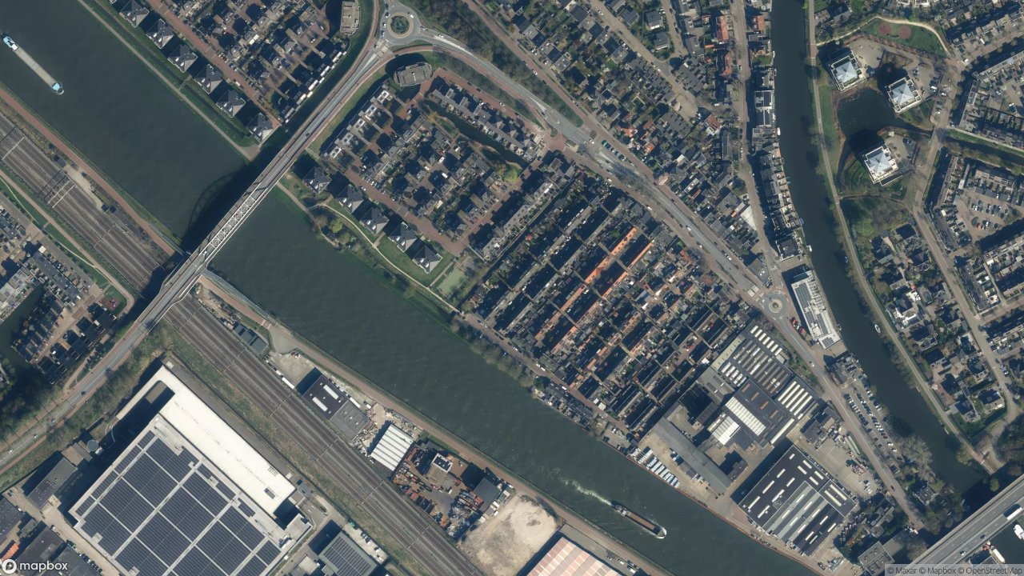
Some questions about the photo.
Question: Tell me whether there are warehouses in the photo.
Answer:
Yes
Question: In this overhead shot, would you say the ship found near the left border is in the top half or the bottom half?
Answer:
top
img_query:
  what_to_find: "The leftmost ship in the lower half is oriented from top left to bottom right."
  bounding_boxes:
[611,501,666,538]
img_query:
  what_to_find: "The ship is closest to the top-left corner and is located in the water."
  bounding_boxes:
[0,33,62,93]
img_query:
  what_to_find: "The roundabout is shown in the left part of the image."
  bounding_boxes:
[381,6,418,44]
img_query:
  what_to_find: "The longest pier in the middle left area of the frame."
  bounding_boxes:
[209,270,273,319]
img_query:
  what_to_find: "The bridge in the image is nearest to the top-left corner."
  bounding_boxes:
[128,144,306,345]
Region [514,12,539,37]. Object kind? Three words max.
house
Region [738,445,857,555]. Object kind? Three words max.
warehouse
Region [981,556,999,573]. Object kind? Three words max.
boat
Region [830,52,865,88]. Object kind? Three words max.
building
